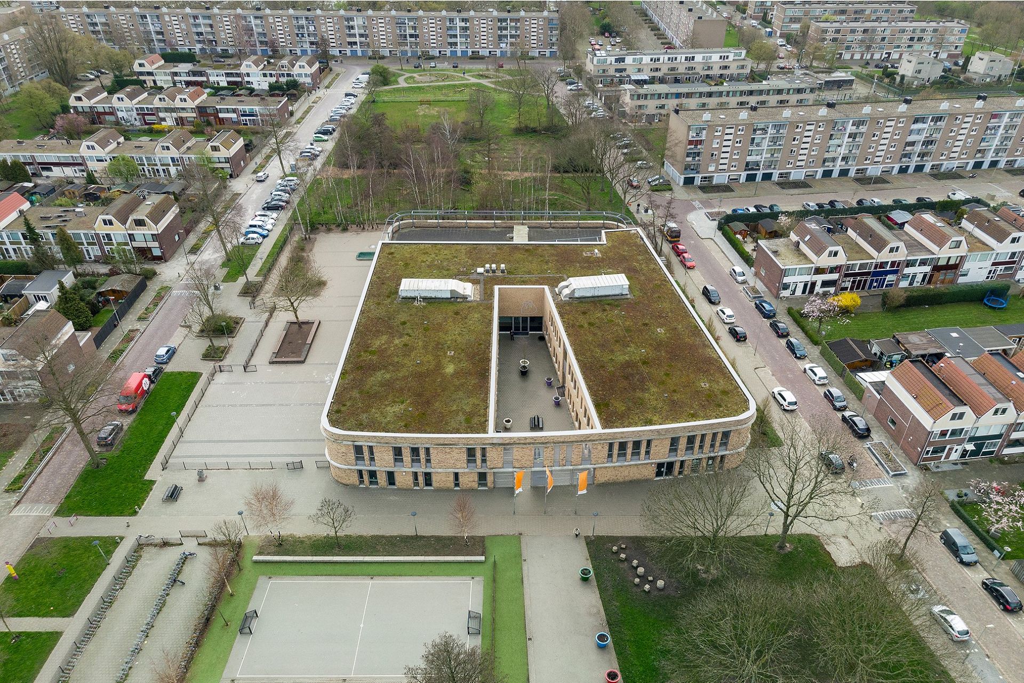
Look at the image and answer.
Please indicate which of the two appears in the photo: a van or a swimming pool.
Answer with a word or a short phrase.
van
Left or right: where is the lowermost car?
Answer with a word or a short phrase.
right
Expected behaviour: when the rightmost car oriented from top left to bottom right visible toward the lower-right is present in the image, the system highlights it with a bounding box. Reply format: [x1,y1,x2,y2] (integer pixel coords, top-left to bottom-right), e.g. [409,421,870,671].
[978,575,1024,619]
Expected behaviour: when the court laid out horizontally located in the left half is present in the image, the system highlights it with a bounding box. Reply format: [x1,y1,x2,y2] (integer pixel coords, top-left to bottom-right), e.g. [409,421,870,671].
[220,578,484,683]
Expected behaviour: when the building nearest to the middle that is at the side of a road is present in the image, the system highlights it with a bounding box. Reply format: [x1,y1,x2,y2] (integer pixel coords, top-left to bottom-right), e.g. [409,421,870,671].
[321,213,757,491]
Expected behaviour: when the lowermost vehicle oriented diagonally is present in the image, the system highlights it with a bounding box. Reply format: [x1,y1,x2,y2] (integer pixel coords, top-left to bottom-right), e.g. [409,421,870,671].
[926,601,976,649]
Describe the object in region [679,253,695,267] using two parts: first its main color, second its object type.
red car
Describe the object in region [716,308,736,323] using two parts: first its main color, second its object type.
white car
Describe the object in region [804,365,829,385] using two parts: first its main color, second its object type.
white car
